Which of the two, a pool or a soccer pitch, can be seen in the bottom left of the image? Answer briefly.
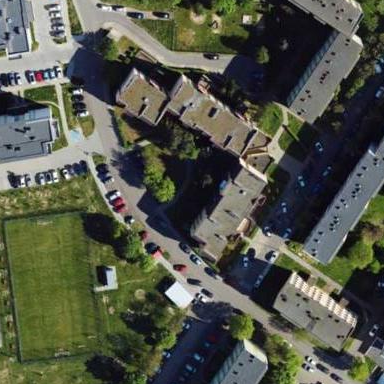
soccer pitch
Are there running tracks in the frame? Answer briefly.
No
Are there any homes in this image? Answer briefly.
Yes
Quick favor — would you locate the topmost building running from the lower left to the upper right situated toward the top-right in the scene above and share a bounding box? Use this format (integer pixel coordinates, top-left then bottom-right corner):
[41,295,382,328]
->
[287,29,363,123]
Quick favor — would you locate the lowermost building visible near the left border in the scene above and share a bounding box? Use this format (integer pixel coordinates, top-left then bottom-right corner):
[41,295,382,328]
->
[0,111,53,161]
